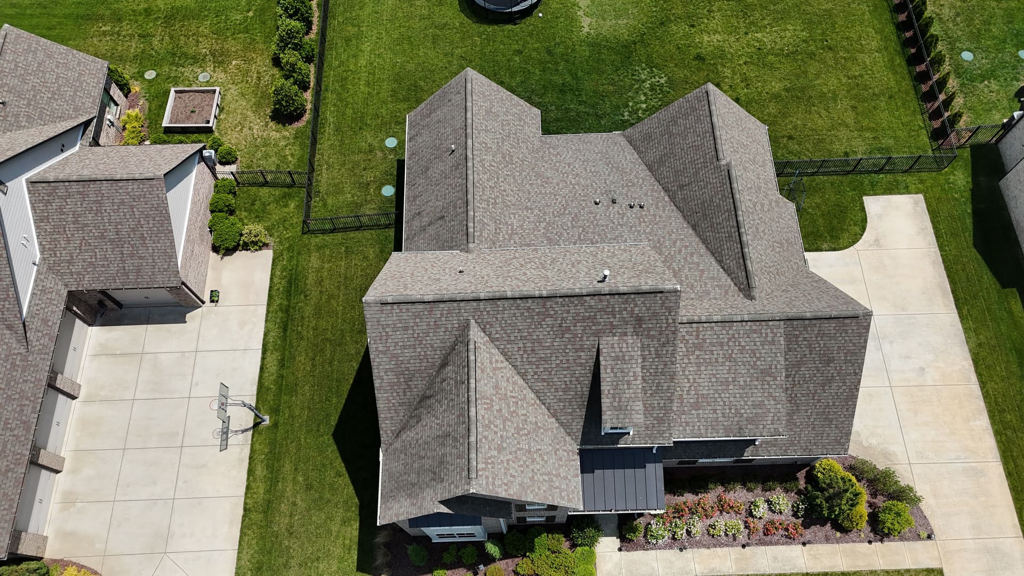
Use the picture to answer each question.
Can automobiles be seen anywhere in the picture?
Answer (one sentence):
No, the photo shows no automobile.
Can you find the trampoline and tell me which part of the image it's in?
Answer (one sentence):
The trampoline is located in the top region of the scene.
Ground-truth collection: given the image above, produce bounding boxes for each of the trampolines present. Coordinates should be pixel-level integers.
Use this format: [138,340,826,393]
[474,0,539,27]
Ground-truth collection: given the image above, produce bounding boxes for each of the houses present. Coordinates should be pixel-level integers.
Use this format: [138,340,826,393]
[362,67,872,545]
[993,100,1024,256]
[0,23,218,559]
